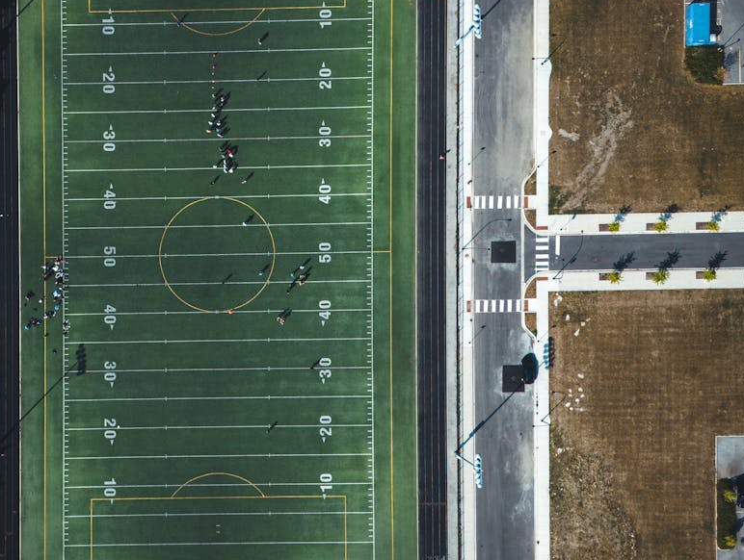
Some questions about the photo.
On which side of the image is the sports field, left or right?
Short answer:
left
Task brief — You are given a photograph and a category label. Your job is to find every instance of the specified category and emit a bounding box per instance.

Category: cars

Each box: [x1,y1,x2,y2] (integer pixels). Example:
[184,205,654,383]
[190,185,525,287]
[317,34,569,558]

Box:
[735,476,744,507]
[522,360,536,387]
